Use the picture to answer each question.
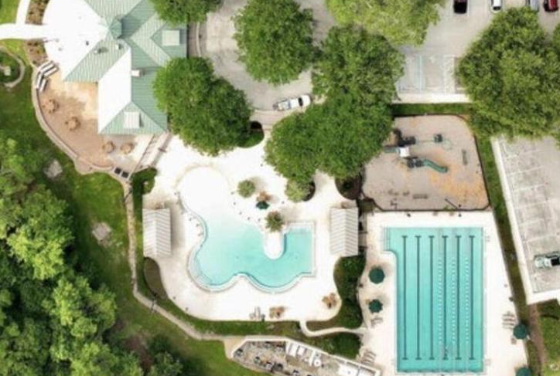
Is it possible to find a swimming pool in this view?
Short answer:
Yes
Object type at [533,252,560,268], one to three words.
vehicle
